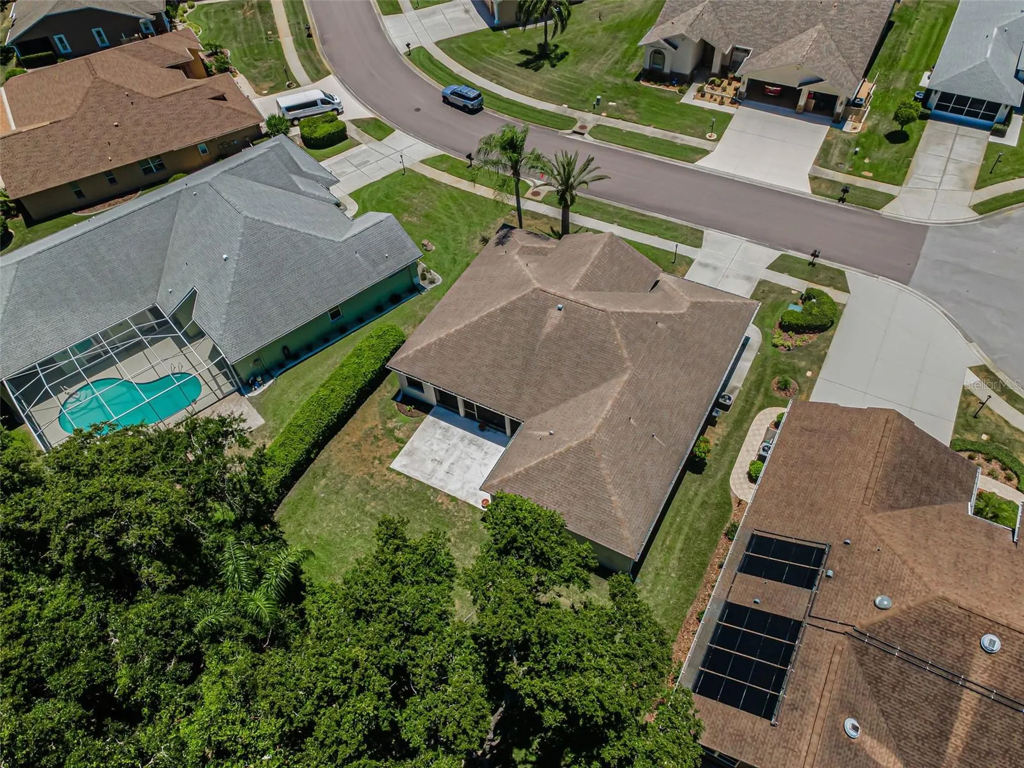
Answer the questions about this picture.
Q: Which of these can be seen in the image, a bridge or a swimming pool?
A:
swimming pool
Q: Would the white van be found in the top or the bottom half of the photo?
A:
top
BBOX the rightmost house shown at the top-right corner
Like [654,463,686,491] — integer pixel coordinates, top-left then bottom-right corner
[924,0,1024,125]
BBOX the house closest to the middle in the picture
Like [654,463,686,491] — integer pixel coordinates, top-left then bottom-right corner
[385,223,762,567]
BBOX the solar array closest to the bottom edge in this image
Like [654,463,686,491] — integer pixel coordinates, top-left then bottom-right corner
[691,601,806,720]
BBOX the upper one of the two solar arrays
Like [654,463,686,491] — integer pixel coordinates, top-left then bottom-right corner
[737,533,829,590]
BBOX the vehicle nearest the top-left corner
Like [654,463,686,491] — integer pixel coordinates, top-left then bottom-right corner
[274,86,345,125]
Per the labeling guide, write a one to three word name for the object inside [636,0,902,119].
house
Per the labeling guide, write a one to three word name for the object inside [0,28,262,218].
house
